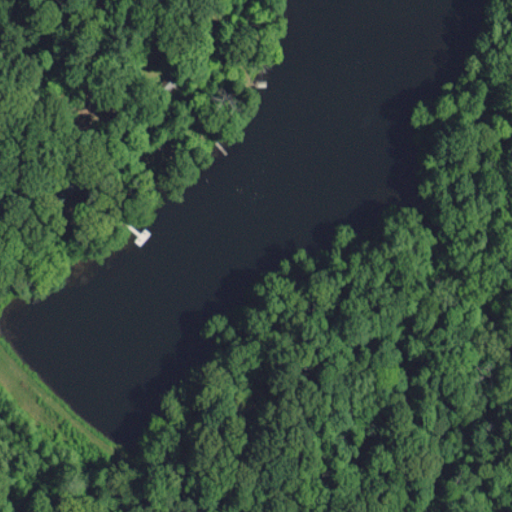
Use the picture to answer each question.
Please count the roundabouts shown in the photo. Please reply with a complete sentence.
The count of roundabouts is 0.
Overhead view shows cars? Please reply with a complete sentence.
No, no car is visible in the scene.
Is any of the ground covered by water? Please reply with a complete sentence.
Yes, there is water in the image.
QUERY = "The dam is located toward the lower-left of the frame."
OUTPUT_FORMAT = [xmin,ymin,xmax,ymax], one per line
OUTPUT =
[0,344,118,496]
